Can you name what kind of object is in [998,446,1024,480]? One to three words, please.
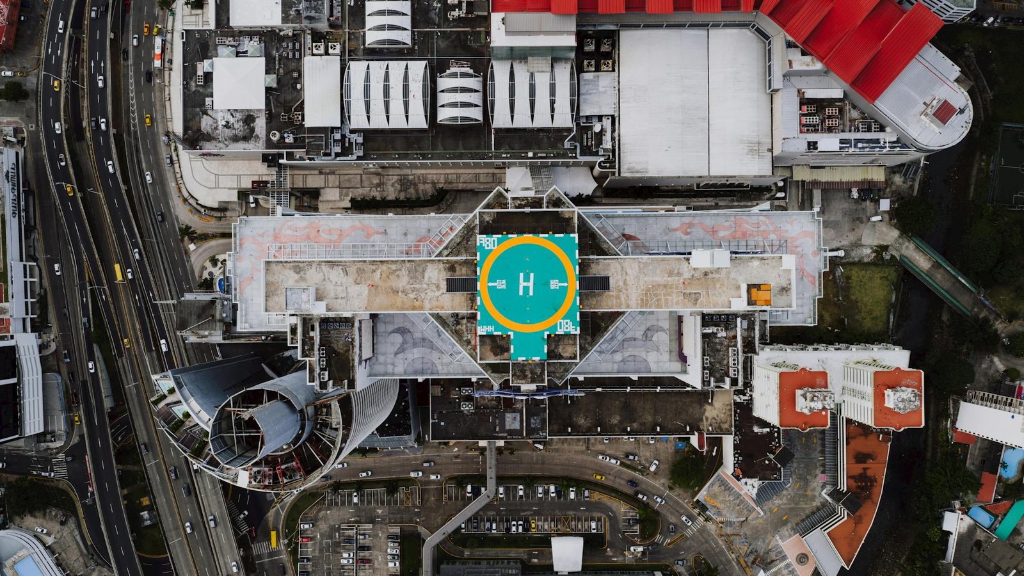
swimming pool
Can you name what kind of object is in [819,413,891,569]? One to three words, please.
building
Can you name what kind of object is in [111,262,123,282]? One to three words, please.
vehicle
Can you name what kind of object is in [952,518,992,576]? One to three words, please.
house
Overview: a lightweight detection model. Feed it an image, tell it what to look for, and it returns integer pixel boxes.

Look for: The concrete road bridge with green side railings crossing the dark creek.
[883,230,997,326]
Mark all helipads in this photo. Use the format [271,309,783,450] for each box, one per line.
[446,231,609,363]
